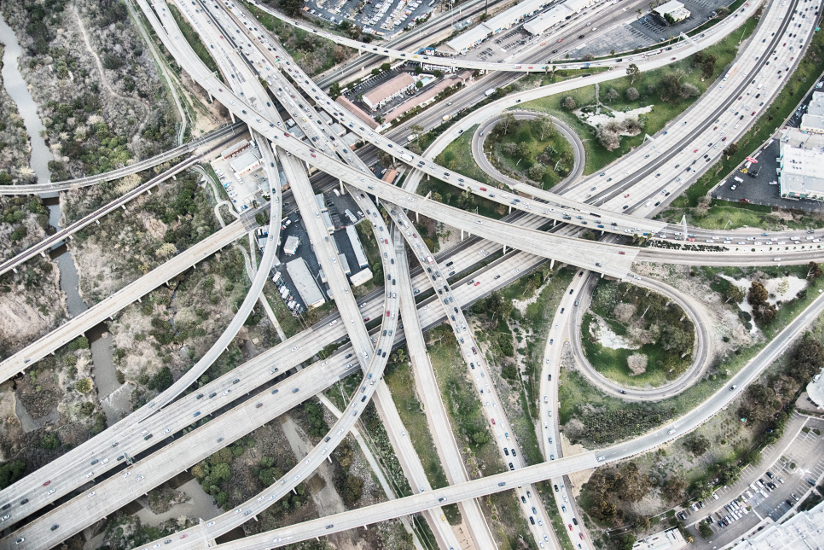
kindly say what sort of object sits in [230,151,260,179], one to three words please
building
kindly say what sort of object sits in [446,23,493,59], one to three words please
building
